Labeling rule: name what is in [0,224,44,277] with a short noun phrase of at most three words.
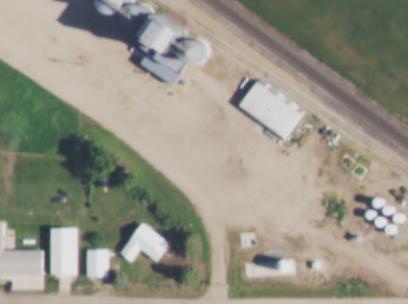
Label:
house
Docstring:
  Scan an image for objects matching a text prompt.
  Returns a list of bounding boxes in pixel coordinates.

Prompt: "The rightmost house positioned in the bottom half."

[120,224,170,262]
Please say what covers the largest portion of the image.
paved ground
